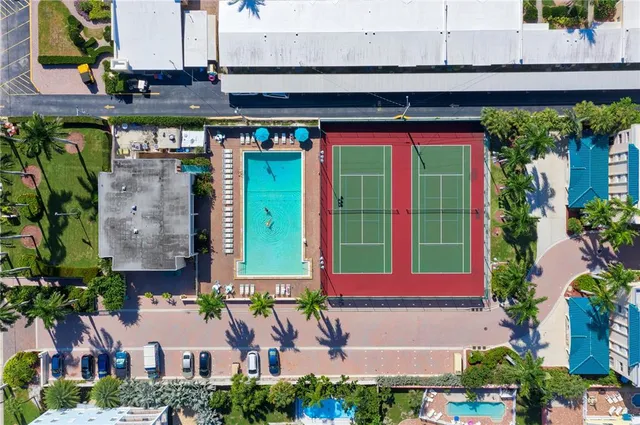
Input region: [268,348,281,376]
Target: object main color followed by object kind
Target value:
blue vehicle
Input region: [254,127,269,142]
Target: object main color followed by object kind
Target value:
blue umbrella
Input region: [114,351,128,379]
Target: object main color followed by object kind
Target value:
blue vehicle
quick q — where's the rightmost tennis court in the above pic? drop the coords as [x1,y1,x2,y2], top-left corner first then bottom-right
[407,145,478,273]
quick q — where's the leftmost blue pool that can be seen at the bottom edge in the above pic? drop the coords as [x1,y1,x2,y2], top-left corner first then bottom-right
[302,396,356,419]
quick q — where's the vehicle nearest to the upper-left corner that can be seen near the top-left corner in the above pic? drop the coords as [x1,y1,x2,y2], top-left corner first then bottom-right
[77,63,95,86]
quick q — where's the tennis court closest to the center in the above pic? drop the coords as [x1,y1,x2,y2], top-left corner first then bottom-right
[328,145,398,273]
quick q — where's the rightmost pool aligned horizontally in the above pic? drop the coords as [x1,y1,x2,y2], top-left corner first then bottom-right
[446,401,506,422]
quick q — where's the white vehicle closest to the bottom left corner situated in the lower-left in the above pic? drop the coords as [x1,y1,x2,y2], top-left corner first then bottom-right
[139,339,157,377]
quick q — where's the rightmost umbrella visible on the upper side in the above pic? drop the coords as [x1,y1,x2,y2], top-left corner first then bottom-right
[294,127,309,142]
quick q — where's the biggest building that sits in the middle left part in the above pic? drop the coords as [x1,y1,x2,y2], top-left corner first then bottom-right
[99,159,198,270]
